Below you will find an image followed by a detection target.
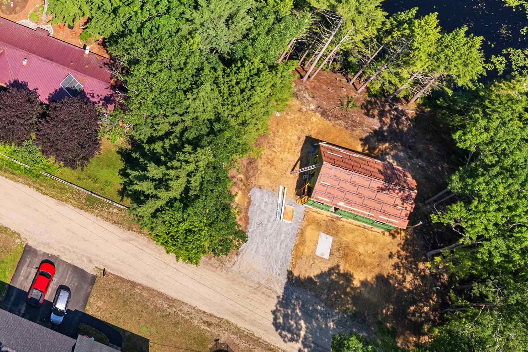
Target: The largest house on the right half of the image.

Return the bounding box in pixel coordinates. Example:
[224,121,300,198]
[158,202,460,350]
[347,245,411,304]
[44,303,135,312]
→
[299,143,420,233]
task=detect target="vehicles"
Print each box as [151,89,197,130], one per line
[51,282,72,327]
[28,257,53,309]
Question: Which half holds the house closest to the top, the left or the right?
left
